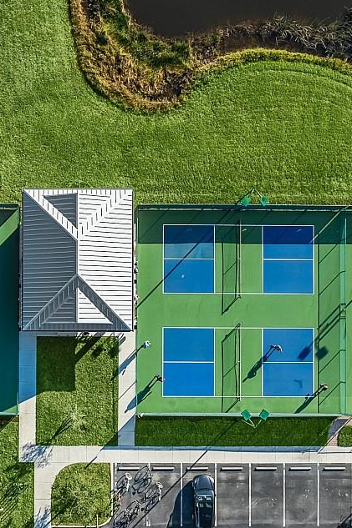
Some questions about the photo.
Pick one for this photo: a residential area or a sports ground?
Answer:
sports ground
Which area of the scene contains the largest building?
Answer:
left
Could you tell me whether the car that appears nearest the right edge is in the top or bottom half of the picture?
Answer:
bottom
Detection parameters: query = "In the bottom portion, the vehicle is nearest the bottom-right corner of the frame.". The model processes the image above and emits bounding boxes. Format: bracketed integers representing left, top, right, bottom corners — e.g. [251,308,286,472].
[191,475,217,528]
